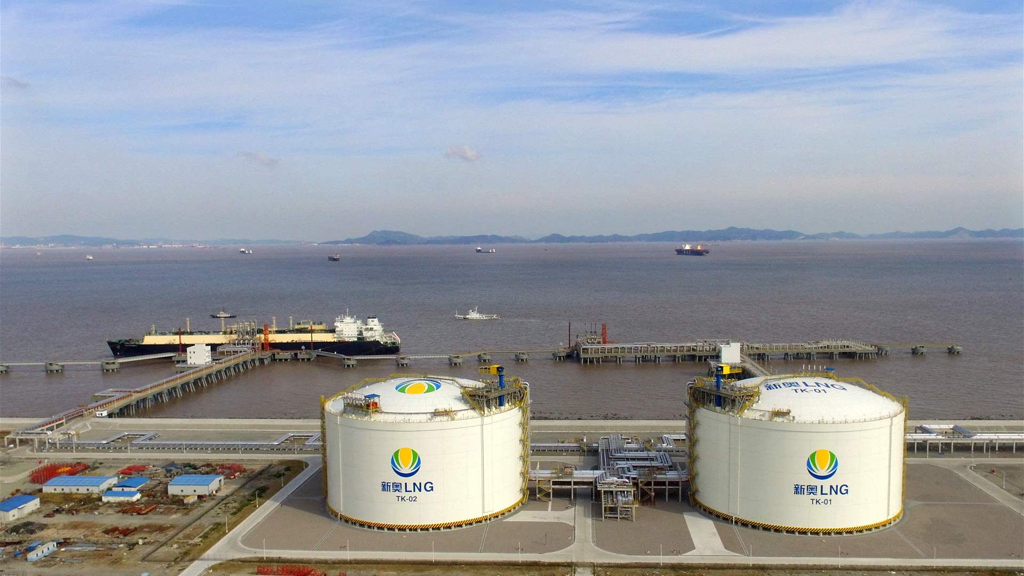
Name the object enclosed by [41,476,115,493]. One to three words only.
shed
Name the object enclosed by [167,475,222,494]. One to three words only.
shed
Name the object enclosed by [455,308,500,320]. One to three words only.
ship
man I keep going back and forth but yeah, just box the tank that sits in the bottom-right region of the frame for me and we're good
[674,368,910,536]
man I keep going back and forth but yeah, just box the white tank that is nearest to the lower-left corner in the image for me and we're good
[319,369,540,532]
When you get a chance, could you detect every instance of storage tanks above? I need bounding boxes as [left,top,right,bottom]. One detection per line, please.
[319,369,540,532]
[674,368,910,536]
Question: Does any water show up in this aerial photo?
Yes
